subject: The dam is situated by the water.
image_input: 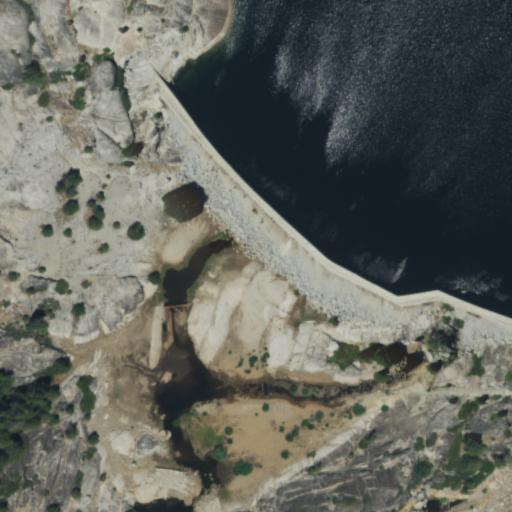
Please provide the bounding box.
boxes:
[150,67,512,352]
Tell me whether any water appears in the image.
Yes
